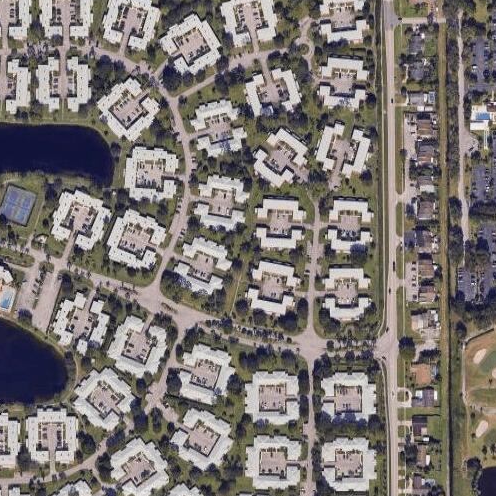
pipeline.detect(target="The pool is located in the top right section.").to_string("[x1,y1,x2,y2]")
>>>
[471,105,496,129]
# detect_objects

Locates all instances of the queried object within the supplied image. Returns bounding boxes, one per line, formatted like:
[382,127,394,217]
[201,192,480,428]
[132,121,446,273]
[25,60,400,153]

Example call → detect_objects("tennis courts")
[2,188,21,217]
[14,192,33,222]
